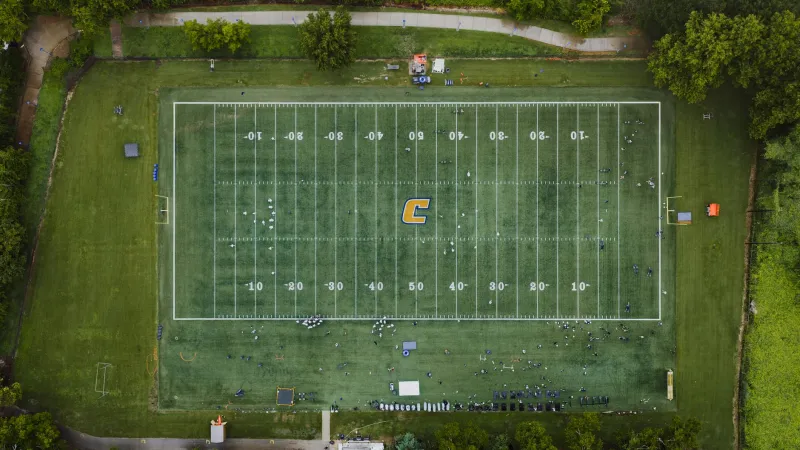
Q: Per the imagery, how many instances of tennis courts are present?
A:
0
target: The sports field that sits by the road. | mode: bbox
[158,88,677,412]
